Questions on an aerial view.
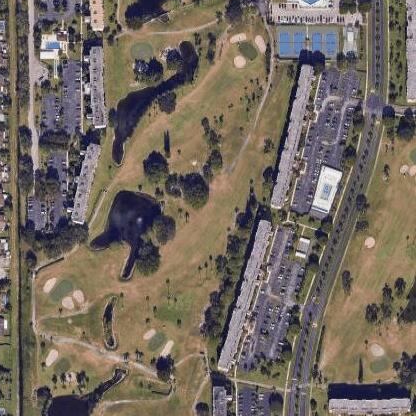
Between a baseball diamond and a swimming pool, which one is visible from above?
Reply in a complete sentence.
The one in the frame is a swimming pool.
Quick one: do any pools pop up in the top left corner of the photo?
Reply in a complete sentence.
Yes, looking in the top left corner of the photo, one can make out a pool.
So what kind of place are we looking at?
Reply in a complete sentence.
The picture captures a golf course.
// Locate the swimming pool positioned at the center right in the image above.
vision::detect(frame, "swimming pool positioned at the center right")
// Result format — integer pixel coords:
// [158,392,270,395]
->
[312,165,343,213]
